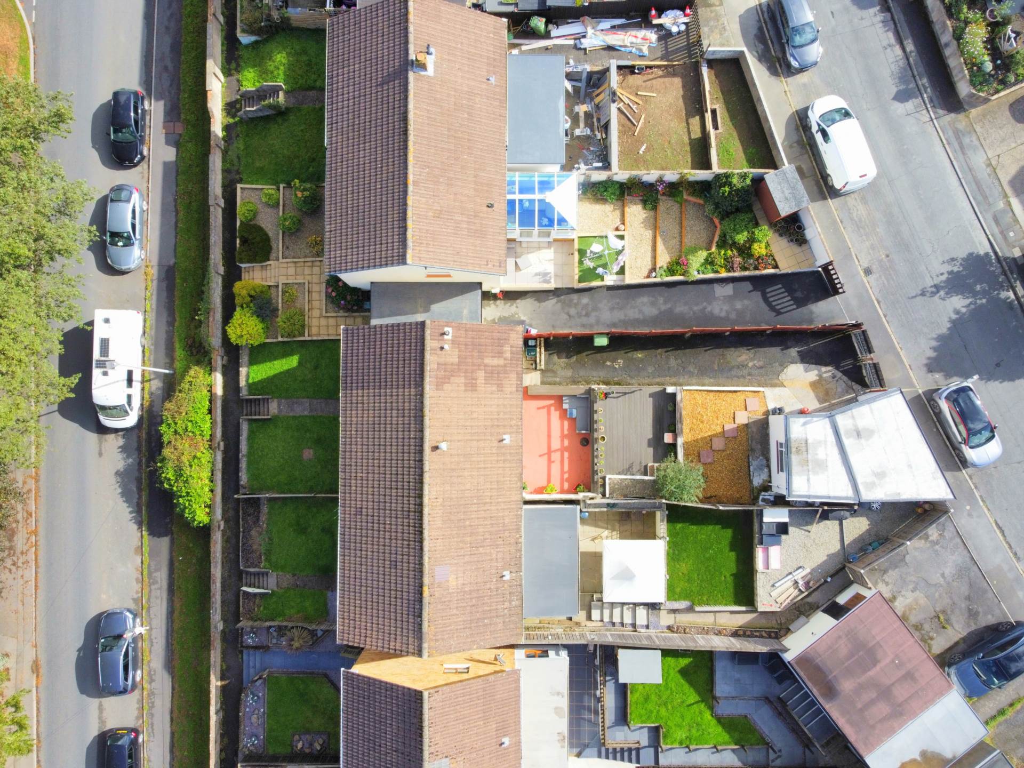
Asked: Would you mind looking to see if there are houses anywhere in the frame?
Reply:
Yes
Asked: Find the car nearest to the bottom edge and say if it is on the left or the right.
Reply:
left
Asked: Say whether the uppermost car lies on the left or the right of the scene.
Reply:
right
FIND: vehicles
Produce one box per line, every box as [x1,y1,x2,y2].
[771,0,829,74]
[946,618,1024,698]
[926,385,1002,469]
[93,607,143,697]
[103,725,147,768]
[105,88,151,166]
[803,98,880,199]
[103,184,149,272]
[92,308,156,428]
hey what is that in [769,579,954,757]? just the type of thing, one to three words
building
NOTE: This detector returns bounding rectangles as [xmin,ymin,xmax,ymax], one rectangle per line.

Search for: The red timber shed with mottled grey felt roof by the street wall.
[753,164,810,225]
